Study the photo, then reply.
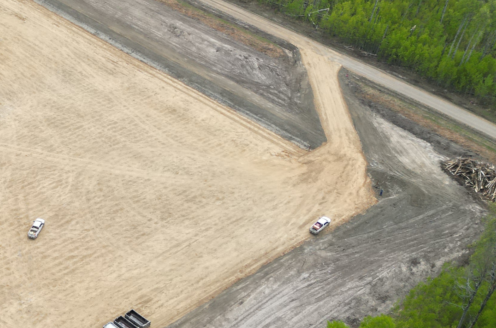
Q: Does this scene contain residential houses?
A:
No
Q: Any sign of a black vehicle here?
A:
No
